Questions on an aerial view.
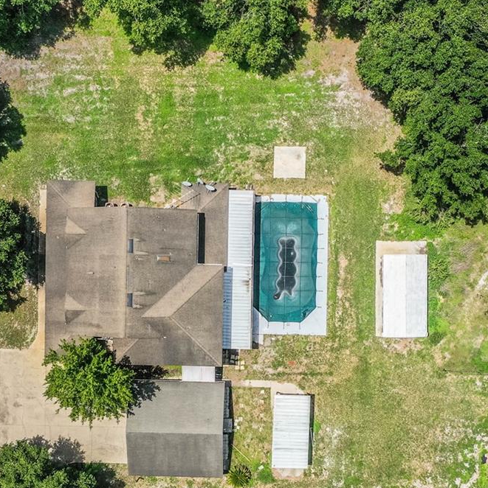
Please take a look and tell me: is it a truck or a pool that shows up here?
pool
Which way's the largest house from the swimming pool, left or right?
on its left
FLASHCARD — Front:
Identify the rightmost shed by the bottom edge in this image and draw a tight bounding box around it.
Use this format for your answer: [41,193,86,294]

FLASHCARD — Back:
[271,393,310,470]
